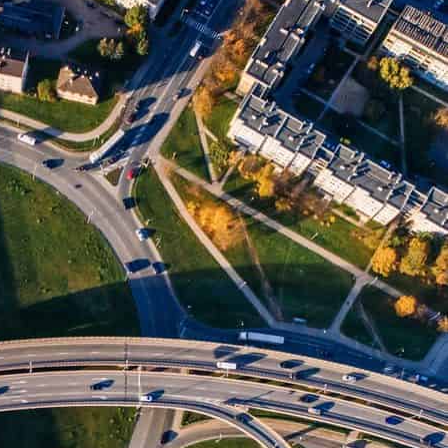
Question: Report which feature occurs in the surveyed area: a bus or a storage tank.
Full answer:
The image shows a bus.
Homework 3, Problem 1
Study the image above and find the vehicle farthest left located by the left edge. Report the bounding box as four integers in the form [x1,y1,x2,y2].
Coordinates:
[18,134,35,146]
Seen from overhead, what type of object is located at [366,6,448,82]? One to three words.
building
